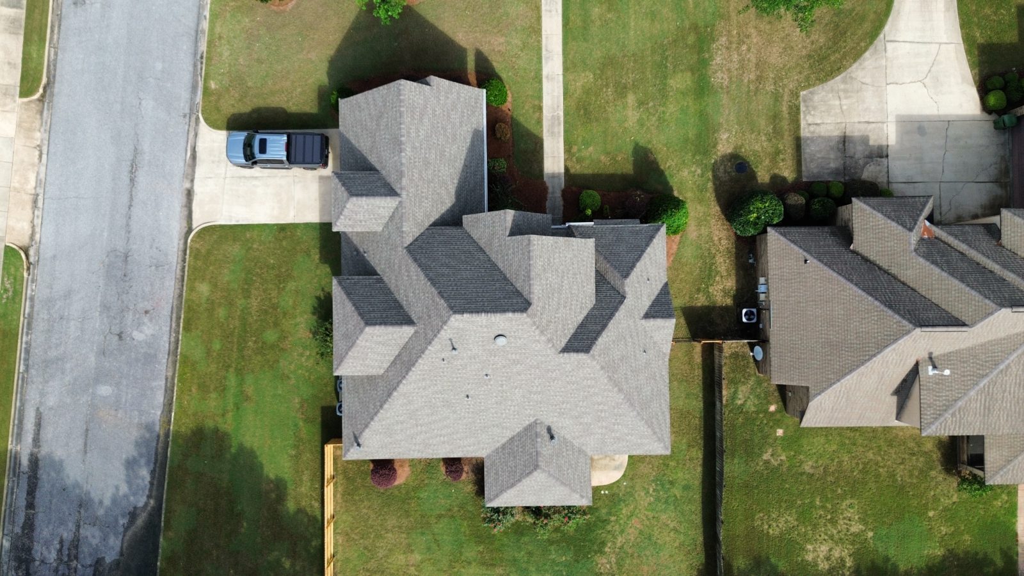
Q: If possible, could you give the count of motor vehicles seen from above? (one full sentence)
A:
In total, 1 motor vehicle can be seen.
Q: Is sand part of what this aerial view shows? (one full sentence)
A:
No, the picture contains no sand.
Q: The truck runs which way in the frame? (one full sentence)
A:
The truck has been laid out from left to right relative to the frame.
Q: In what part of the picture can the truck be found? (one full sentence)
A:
Look in the top left portion of the view to spot the truck.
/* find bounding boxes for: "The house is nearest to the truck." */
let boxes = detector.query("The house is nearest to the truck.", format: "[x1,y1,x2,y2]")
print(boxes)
[331,76,674,508]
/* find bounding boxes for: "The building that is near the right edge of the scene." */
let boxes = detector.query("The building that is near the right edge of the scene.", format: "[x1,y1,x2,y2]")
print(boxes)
[759,109,1024,486]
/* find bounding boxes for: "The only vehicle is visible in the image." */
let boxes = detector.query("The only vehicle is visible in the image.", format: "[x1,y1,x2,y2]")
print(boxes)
[226,127,333,170]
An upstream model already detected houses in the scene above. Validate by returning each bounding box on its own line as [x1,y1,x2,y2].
[759,109,1024,486]
[331,76,674,508]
